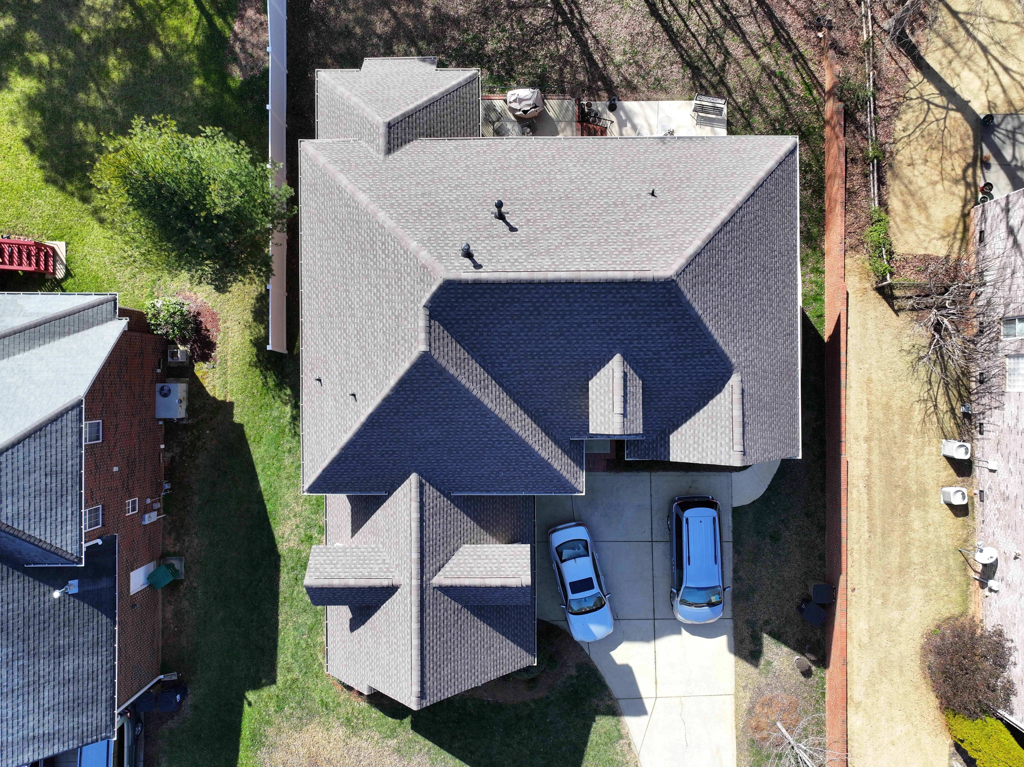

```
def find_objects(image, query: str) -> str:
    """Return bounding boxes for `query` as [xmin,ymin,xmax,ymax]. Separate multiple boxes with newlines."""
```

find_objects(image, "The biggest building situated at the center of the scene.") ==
[296,54,804,710]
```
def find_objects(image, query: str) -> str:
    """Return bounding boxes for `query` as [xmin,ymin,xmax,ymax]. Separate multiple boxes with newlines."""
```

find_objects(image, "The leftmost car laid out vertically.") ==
[549,520,615,643]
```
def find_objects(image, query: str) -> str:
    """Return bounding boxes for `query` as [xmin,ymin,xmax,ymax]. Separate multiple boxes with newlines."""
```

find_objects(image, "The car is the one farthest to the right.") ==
[667,496,734,624]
